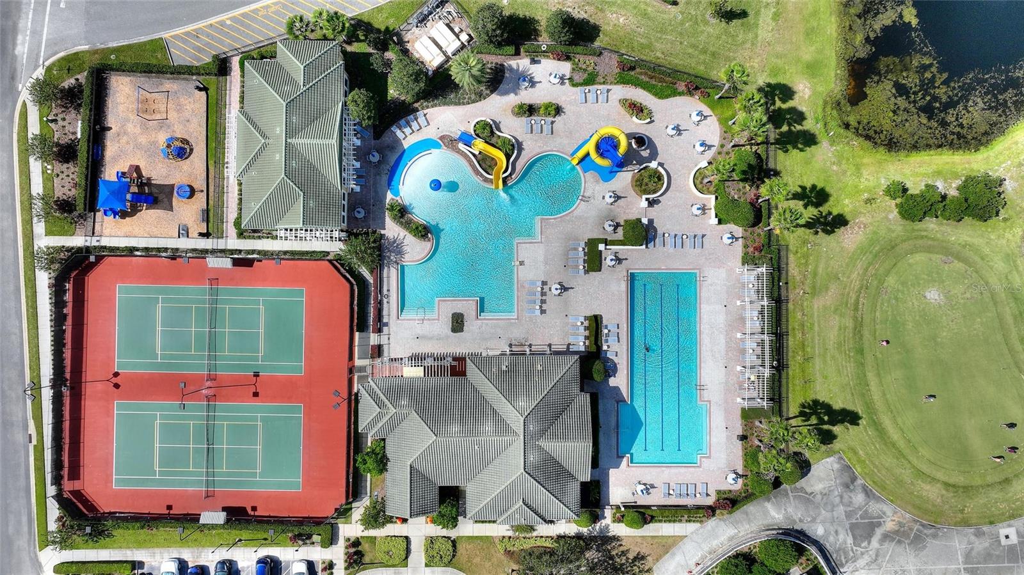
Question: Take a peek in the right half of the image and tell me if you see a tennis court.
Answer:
No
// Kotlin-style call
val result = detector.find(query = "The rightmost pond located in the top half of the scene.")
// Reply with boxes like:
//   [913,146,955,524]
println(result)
[836,0,1024,147]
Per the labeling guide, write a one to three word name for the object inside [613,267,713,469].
swimming pool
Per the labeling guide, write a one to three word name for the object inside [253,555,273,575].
car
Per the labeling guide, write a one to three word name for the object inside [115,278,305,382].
tennis court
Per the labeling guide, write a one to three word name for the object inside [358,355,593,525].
building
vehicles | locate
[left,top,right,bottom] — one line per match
[213,558,233,575]
[188,564,205,575]
[291,558,310,575]
[160,557,181,575]
[253,555,273,575]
